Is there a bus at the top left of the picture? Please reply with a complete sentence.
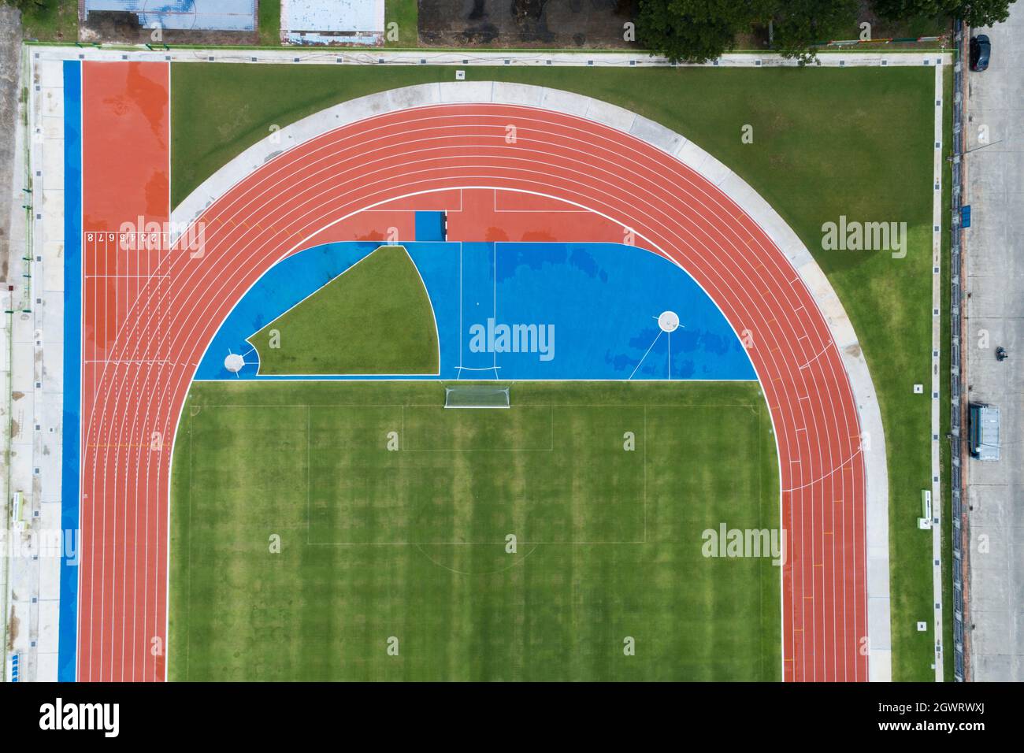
No, there is no bus at the top left of the picture.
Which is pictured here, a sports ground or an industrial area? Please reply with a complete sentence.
It's a sports ground.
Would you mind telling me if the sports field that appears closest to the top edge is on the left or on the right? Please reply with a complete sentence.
The sports field that appears closest to the top edge is on the left side of the image.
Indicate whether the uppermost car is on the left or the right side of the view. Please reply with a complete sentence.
You can find the uppermost car on the right side of the picture.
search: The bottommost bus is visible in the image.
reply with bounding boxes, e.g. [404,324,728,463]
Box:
[969,403,1000,459]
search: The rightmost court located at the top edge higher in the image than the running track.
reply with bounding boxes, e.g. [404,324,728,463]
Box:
[280,0,385,47]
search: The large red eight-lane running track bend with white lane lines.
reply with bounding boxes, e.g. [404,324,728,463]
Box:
[73,61,873,753]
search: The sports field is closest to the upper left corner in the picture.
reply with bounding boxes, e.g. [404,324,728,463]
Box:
[245,245,440,375]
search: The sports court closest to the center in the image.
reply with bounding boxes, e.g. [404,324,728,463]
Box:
[191,240,759,382]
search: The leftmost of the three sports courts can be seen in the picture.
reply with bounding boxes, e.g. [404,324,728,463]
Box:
[78,0,258,45]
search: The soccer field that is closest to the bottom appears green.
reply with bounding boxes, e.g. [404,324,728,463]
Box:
[164,381,785,753]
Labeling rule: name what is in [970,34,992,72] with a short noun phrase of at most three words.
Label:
car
